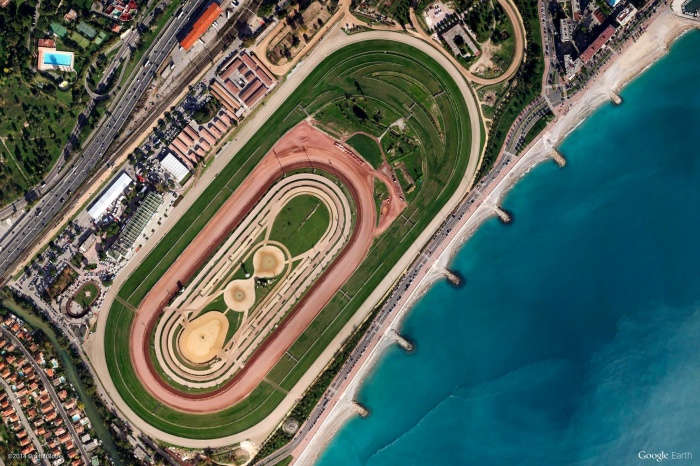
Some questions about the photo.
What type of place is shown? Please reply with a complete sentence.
This image shows a sports ground.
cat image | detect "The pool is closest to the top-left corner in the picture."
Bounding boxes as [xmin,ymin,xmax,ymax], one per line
[38,46,75,70]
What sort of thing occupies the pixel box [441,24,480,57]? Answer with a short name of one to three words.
building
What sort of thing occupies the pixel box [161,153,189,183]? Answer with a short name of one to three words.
building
